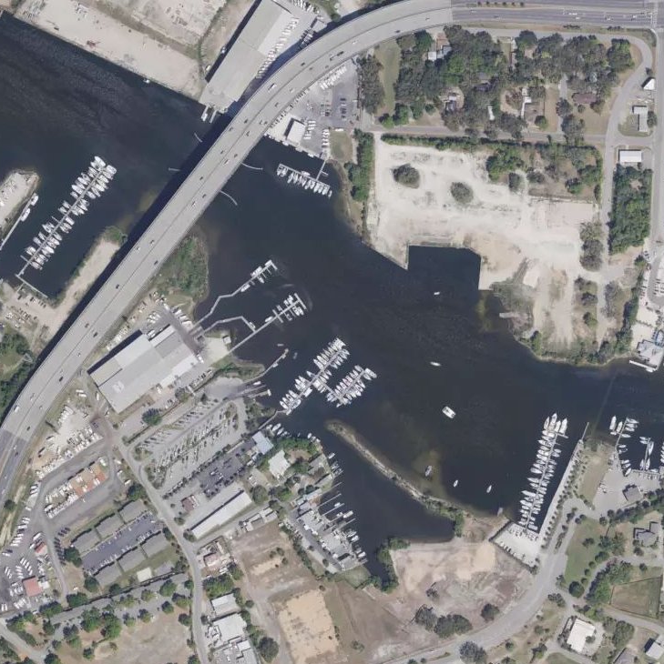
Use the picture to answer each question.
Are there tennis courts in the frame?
No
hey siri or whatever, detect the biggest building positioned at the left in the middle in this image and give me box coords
[91,326,200,413]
